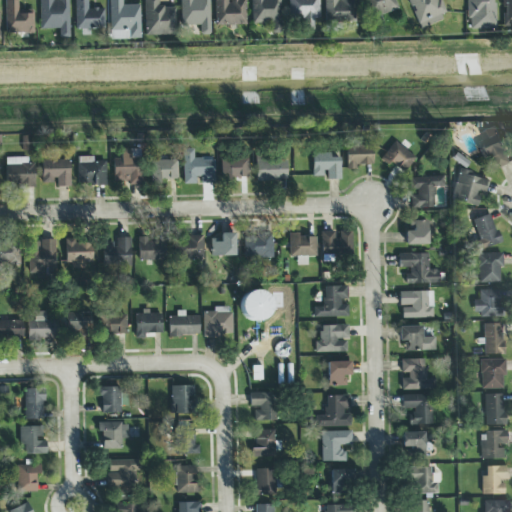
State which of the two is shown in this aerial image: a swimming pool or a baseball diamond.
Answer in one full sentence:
Looking from above, you can make out a swimming pool.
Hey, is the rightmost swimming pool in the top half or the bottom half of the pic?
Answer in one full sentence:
It is in the top half that the rightmost swimming pool appears.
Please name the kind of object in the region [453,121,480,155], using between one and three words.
swimming pool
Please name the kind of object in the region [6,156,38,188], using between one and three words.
house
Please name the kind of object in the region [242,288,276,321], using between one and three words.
storage tank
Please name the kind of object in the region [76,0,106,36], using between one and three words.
house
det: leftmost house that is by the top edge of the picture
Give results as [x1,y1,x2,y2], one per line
[6,0,36,38]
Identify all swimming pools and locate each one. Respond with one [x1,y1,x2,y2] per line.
[453,121,480,155]
[434,188,446,208]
